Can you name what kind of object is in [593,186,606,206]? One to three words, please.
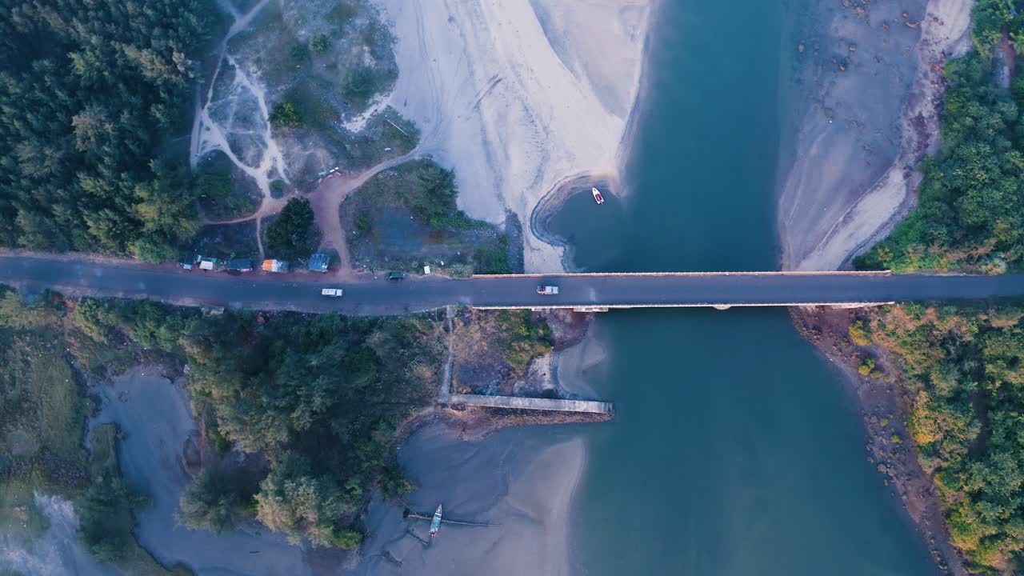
boat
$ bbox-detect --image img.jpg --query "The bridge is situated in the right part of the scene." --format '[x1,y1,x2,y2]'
[472,271,894,311]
